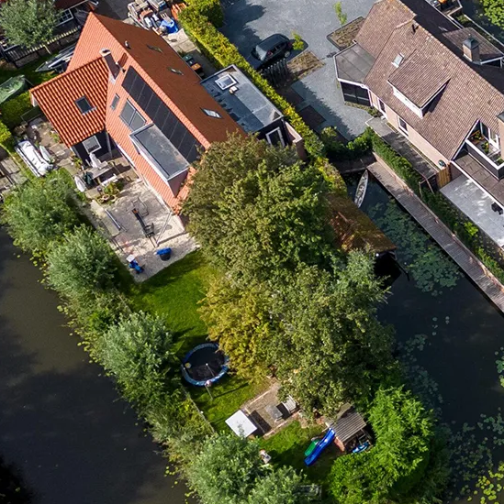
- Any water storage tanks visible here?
No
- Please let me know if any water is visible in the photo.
Yes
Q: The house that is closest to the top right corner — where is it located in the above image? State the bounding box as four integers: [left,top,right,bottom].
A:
[333,0,504,229]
